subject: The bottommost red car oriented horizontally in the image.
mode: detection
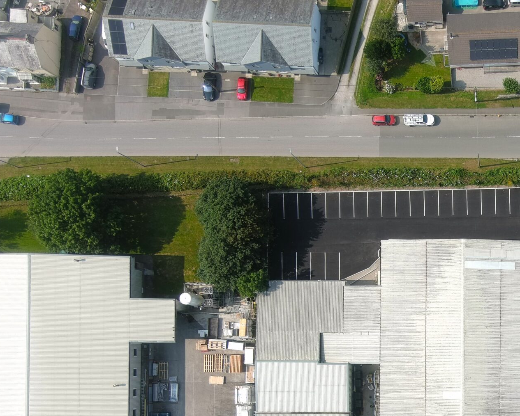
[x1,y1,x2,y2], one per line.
[371,115,398,127]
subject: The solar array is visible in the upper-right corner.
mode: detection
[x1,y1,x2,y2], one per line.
[470,38,518,61]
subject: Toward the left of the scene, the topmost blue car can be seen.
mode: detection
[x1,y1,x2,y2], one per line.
[68,14,84,42]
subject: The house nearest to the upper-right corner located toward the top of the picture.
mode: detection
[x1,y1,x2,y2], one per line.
[446,11,520,68]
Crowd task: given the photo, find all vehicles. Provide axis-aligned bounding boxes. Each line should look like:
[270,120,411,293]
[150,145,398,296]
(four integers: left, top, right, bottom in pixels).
[82,63,98,89]
[483,0,507,11]
[508,0,520,8]
[235,79,249,101]
[371,115,398,127]
[68,14,84,42]
[202,74,216,102]
[99,22,108,51]
[0,112,21,125]
[404,113,435,126]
